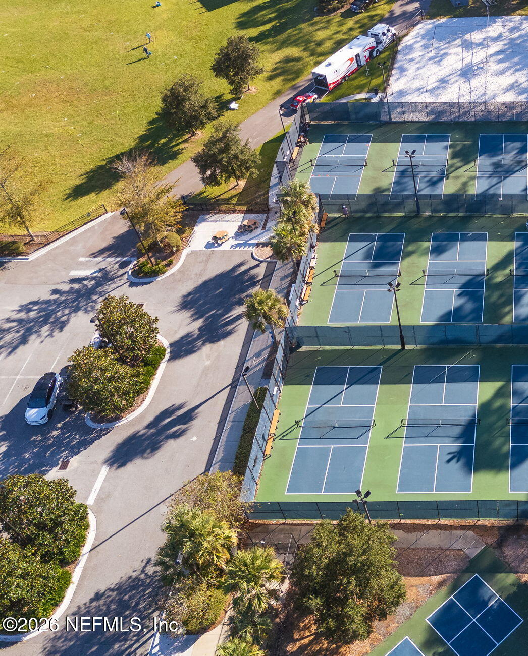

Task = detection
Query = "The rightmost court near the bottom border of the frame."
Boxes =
[425,574,524,656]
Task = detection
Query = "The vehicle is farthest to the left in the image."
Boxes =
[24,376,66,422]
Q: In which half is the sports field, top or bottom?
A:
top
